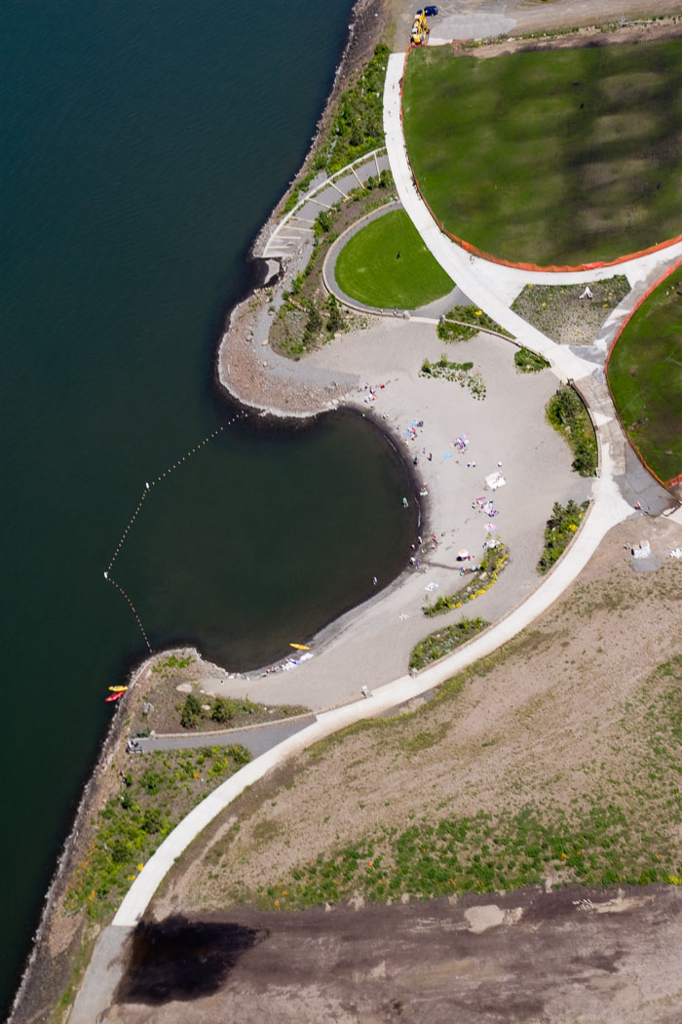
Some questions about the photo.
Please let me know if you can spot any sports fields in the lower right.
No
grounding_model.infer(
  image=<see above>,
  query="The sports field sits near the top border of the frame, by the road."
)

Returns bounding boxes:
[404,38,682,270]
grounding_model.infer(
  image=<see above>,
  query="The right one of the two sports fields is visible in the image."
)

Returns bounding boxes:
[612,262,682,483]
